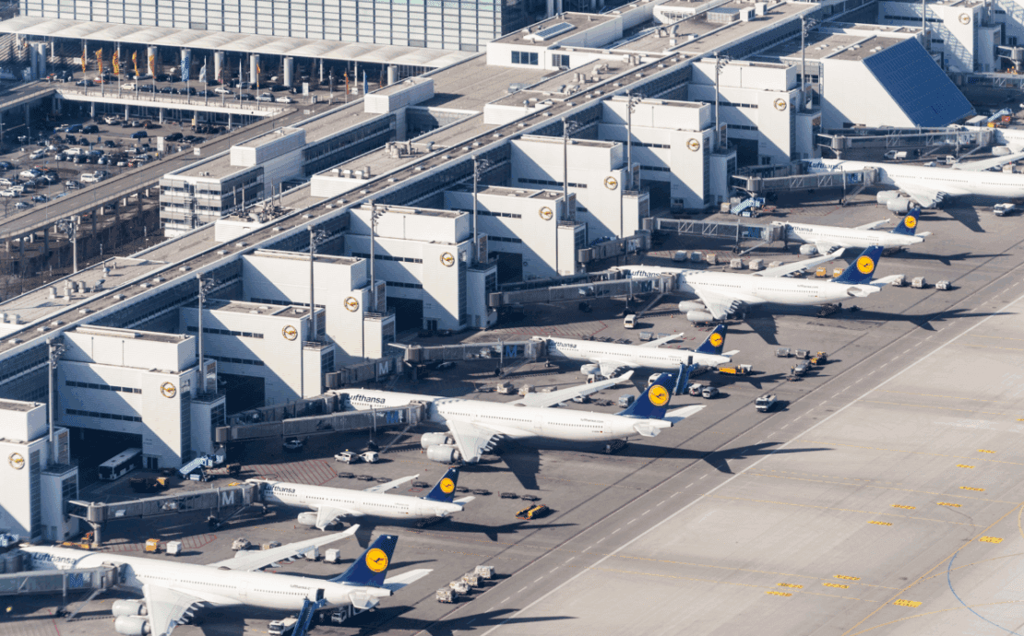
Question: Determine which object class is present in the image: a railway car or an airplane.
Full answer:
Of the two, only an airplane appears.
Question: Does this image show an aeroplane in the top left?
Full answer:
No, I can find no aeroplane in the top left.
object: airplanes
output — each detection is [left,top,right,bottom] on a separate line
[614,245,898,323]
[11,519,417,636]
[545,326,739,378]
[766,209,944,258]
[326,367,694,463]
[790,152,1024,214]
[259,471,475,533]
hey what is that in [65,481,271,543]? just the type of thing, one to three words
jet bridge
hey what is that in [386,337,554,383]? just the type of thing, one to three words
jet bridge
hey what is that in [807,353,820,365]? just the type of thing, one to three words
vehicle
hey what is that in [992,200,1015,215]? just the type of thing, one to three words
vehicle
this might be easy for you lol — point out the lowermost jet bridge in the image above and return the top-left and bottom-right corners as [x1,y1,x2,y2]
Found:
[0,561,131,617]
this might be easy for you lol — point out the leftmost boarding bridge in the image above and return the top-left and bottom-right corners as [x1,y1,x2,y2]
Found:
[0,546,28,573]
